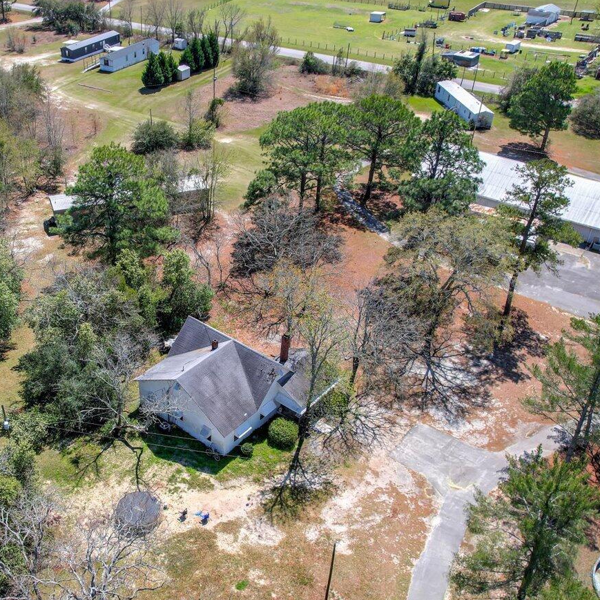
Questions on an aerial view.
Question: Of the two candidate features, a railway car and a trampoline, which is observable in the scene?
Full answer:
There is a trampoline in the scene.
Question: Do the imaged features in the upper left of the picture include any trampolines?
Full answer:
No, there is no trampoline in the upper left of the picture.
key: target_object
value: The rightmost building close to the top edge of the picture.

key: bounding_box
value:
[529,3,564,24]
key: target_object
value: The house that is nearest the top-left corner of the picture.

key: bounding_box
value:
[60,32,113,62]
